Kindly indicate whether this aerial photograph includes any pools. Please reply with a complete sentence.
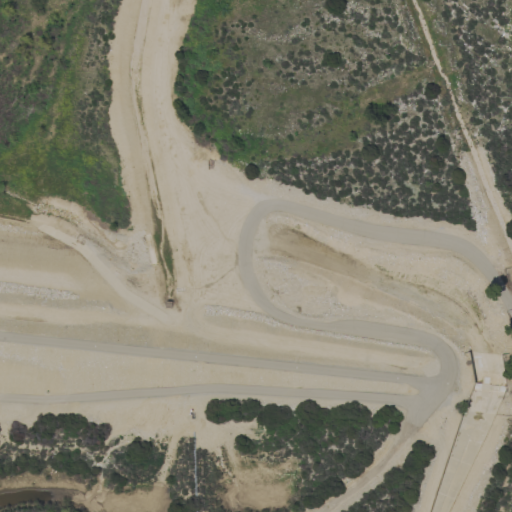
No, the scene contains no pool.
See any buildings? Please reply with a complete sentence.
No, I can't see a single building in this photo.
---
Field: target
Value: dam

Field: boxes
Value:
[0,286,440,404]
